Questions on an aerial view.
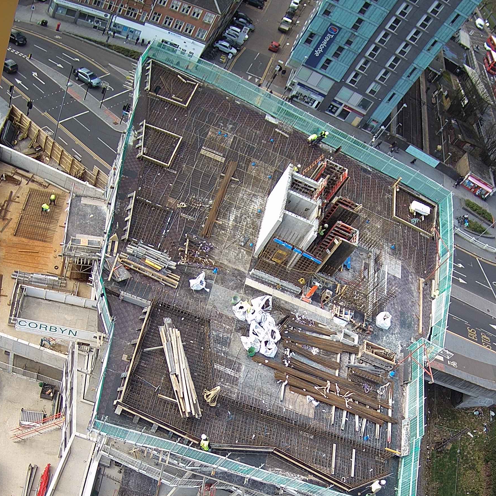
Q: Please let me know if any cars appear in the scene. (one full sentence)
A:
Yes, a car appears in the view.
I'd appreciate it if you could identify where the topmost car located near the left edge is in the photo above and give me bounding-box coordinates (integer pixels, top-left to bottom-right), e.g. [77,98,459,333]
[15,26,33,43]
